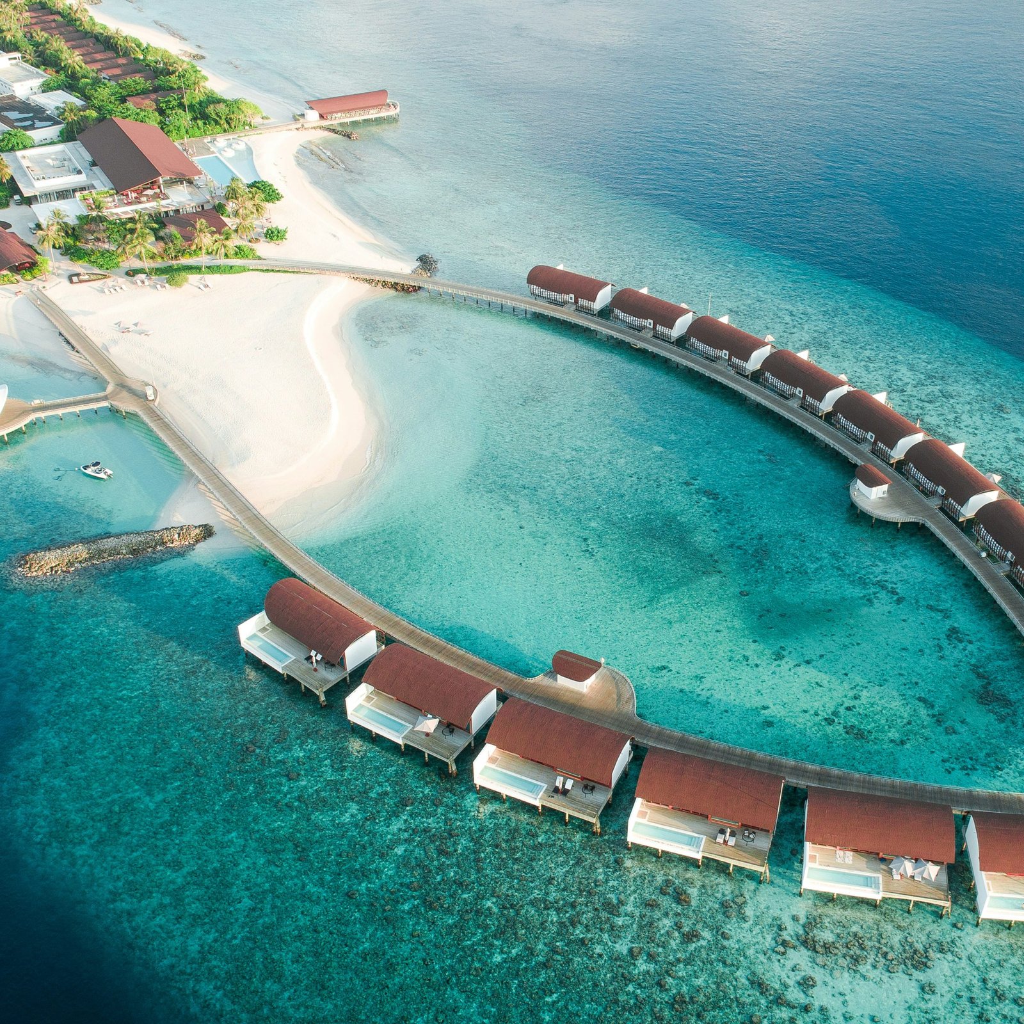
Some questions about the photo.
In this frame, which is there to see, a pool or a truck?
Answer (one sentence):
The one in the frame is a pool.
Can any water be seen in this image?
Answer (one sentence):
Yes, water can be seen from above here.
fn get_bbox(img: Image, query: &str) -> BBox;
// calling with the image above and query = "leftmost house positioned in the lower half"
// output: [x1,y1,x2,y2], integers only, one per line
[239,583,382,717]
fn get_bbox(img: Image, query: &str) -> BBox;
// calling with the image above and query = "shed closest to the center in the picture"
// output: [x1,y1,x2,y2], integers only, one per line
[548,646,597,693]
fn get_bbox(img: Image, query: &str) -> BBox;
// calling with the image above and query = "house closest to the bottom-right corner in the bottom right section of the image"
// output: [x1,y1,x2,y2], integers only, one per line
[959,808,1024,928]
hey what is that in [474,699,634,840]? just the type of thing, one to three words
house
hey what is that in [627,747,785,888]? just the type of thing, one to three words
house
